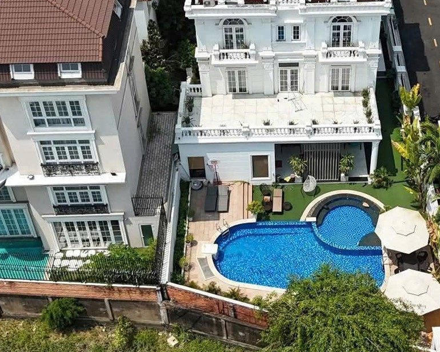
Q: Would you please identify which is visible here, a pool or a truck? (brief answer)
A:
pool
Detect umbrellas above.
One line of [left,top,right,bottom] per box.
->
[373,212,428,257]
[382,270,440,327]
